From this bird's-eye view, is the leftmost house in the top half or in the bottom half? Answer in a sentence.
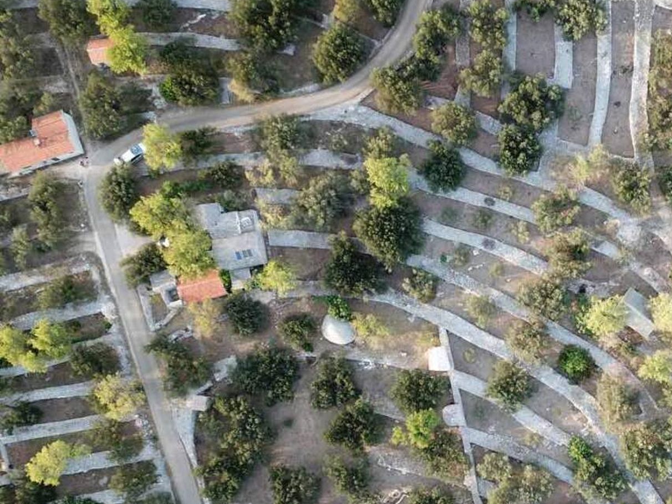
The top half of the photo is where the leftmost house is.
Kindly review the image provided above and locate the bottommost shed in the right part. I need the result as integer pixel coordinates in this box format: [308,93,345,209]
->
[428,348,451,370]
